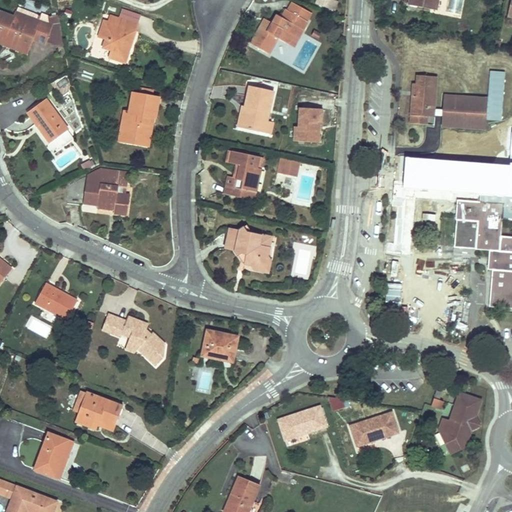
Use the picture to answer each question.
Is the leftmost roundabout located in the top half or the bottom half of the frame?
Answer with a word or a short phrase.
bottom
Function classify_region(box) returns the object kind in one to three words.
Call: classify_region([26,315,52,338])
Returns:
shed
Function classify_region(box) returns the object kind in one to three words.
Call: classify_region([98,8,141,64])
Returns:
house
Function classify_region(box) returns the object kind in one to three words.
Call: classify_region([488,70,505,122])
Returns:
building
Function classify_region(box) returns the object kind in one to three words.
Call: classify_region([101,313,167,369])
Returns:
house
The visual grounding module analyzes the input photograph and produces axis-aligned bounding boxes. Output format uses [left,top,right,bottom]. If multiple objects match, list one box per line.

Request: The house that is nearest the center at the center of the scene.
[224,227,278,274]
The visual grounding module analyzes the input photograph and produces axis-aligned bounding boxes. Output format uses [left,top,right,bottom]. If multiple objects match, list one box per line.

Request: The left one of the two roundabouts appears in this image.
[276,282,366,387]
